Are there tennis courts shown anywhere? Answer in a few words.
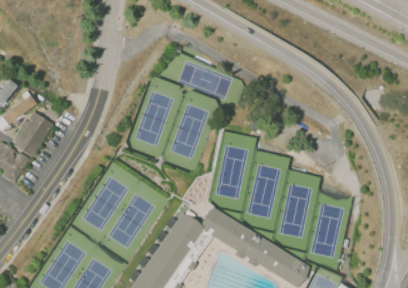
Yes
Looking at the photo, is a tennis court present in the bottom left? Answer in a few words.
Yes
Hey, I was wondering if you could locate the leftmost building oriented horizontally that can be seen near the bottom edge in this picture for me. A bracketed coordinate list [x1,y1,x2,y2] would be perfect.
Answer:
[134,210,310,288]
